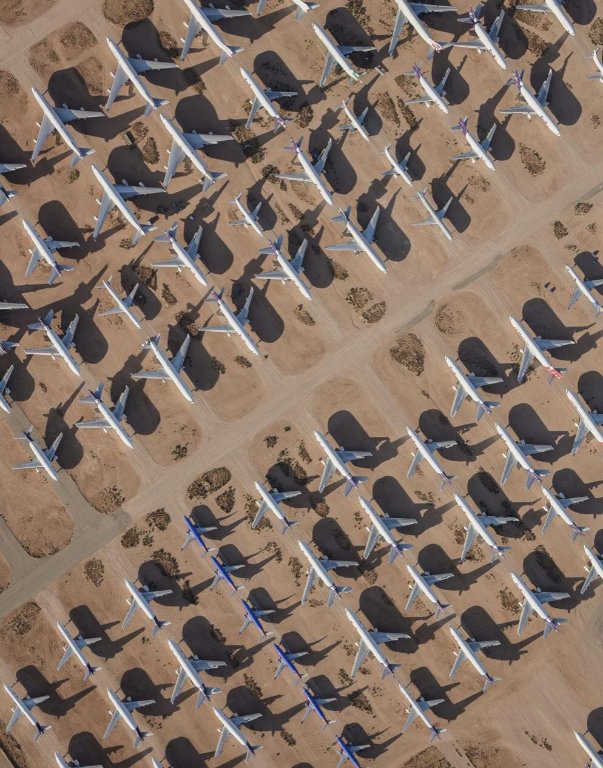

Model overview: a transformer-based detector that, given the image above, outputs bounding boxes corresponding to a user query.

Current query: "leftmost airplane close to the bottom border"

[4,684,51,740]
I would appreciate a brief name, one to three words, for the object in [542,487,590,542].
airplane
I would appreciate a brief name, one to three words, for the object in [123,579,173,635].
airplane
